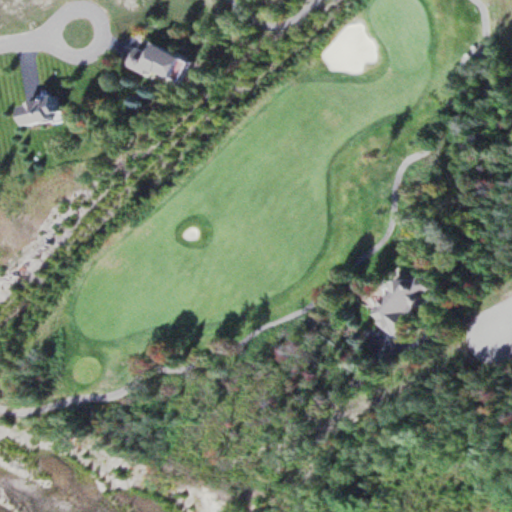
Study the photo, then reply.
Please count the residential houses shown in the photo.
3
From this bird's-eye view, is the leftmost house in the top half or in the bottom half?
top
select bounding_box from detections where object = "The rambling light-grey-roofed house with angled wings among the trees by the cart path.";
[363,272,430,338]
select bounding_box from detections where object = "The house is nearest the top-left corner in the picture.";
[10,89,64,130]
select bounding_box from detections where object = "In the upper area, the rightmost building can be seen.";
[121,36,186,82]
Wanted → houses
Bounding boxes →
[363,272,430,338]
[121,36,186,82]
[10,89,64,130]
